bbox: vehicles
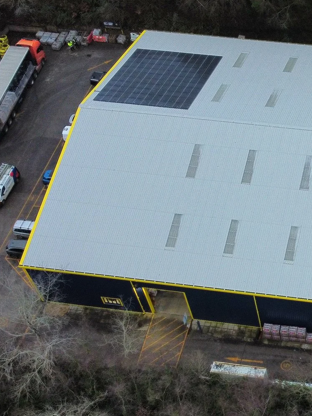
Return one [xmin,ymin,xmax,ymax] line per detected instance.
[7,242,26,263]
[0,37,50,138]
[68,116,76,126]
[90,71,110,87]
[11,223,34,245]
[0,165,20,209]
[40,171,54,191]
[60,125,72,145]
